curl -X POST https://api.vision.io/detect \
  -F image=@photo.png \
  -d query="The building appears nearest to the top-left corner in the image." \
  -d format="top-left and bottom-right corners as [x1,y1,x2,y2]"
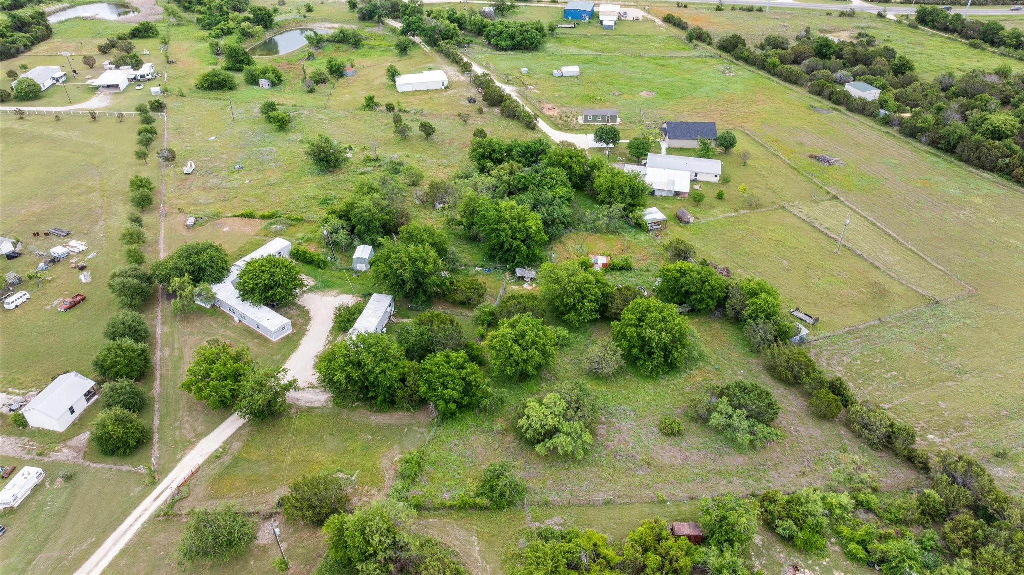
[27,68,71,91]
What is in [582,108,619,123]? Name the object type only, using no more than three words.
house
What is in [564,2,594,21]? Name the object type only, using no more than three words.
building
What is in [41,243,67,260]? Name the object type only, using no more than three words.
camper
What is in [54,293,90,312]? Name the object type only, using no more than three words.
vehicle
